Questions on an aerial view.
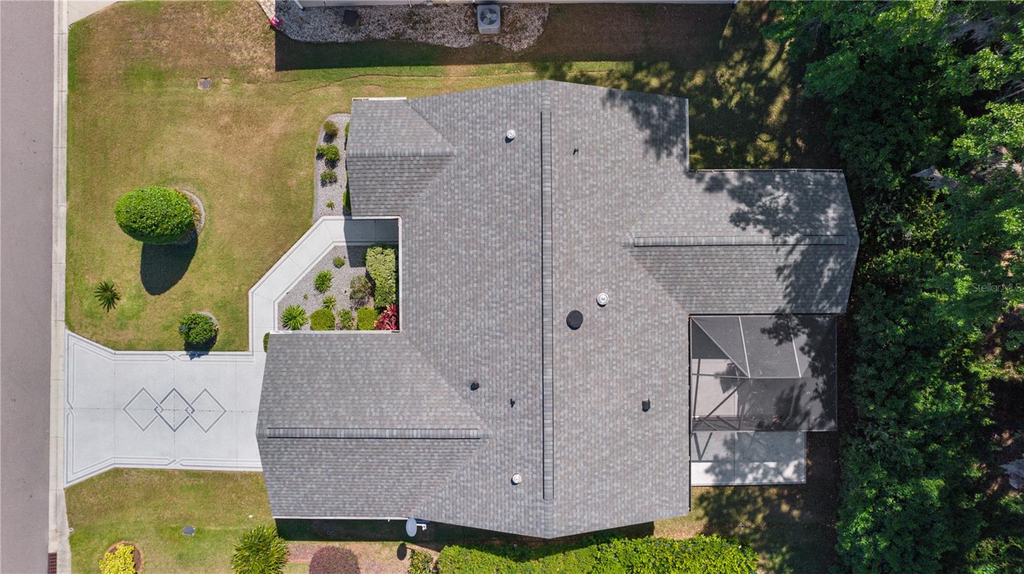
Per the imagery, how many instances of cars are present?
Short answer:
0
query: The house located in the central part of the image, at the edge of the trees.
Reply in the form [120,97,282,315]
[257,79,858,539]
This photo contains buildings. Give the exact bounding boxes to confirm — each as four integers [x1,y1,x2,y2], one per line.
[291,0,737,13]
[257,79,858,539]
